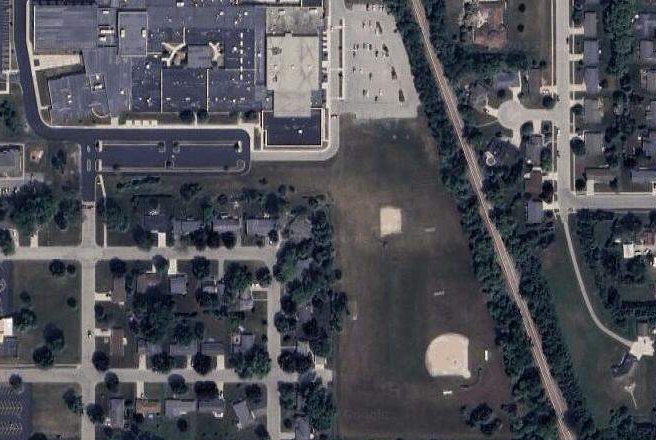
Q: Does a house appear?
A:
Yes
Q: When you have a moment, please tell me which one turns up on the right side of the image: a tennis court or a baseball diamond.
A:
baseball diamond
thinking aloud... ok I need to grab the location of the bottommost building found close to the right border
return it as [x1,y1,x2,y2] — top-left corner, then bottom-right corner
[609,353,636,377]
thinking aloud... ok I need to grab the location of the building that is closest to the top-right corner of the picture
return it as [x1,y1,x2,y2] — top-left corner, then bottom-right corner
[636,14,656,38]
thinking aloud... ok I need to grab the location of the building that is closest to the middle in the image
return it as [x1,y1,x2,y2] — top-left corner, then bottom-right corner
[290,220,311,238]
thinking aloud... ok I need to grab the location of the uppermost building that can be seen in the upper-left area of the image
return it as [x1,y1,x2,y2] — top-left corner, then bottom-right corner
[33,0,323,145]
